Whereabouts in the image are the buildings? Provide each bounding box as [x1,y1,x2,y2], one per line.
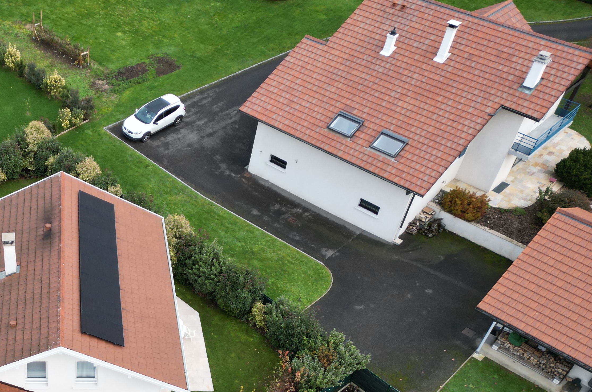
[473,208,592,392]
[0,171,194,392]
[237,0,592,248]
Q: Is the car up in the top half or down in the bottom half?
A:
top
